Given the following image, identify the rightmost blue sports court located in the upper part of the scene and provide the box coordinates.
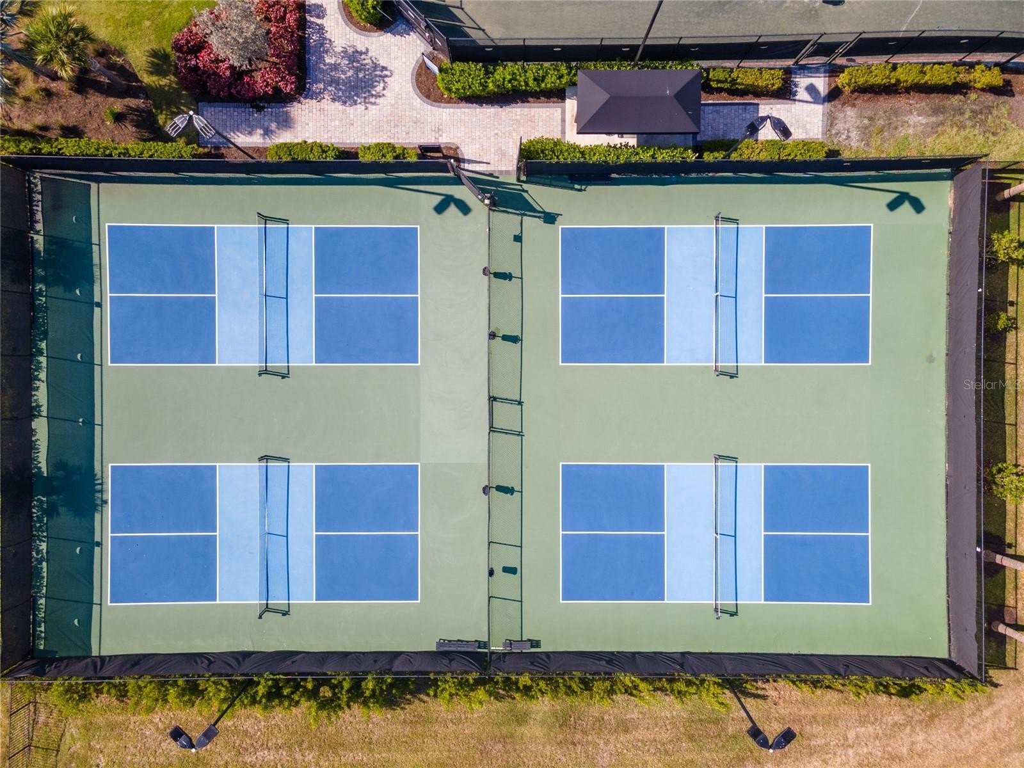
[560,219,873,371]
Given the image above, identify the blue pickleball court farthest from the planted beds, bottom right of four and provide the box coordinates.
[561,458,872,609]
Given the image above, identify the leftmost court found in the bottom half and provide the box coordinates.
[108,458,420,609]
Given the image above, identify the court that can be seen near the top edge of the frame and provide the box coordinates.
[394,0,1024,68]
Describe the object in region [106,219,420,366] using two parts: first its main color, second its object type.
blue sports court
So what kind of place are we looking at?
sports ground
